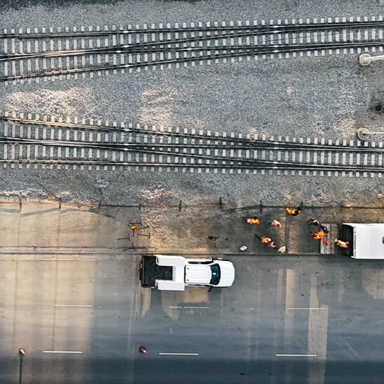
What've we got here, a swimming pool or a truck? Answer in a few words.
truck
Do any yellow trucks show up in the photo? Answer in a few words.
No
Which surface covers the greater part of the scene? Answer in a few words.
paved ground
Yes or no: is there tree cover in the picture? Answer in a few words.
No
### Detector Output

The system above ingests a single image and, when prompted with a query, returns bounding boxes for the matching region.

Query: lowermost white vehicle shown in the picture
[138,256,235,289]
